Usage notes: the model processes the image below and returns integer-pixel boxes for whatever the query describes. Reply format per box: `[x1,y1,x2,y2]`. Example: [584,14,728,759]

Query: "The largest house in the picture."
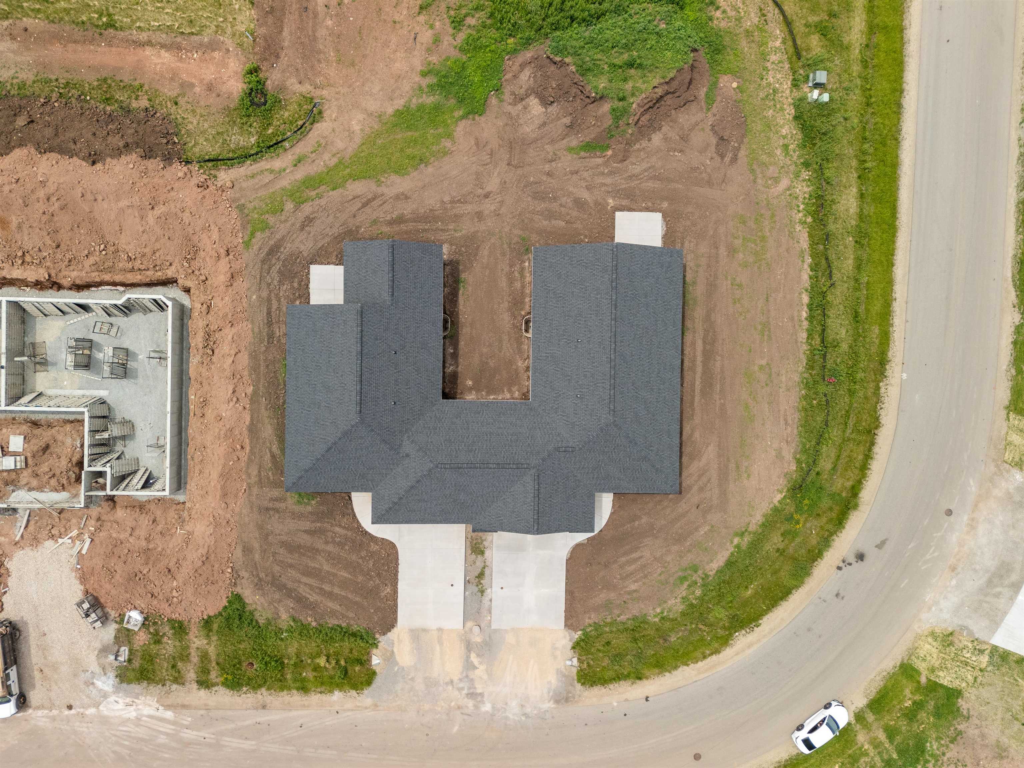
[284,240,683,536]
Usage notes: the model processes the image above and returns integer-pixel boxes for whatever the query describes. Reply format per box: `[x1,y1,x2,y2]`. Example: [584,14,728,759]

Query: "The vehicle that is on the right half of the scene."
[794,702,850,753]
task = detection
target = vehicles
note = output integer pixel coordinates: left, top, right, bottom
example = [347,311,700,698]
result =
[794,702,850,753]
[0,613,24,718]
